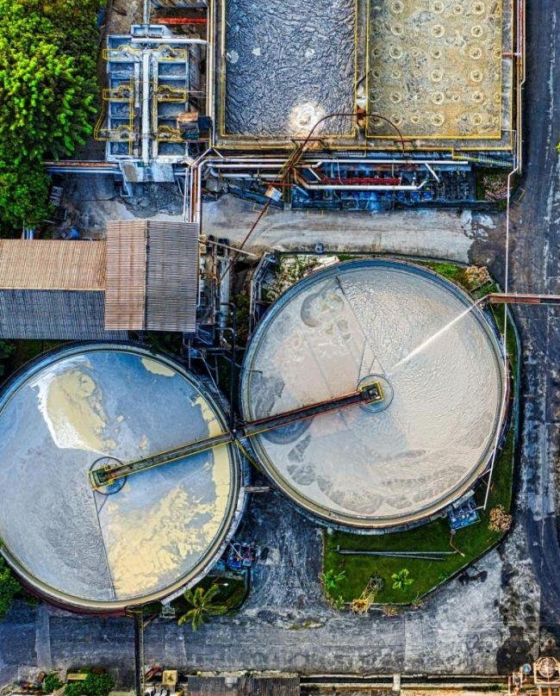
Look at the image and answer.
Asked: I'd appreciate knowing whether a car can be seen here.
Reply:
No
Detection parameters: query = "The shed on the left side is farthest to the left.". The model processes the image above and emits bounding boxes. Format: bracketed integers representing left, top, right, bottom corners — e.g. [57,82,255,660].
[0,239,127,339]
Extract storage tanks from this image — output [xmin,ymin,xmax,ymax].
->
[0,341,256,613]
[242,261,508,528]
